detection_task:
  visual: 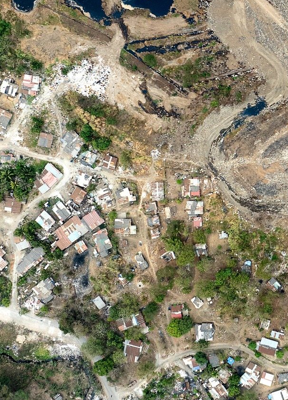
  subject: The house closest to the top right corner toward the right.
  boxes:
[175,177,202,198]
